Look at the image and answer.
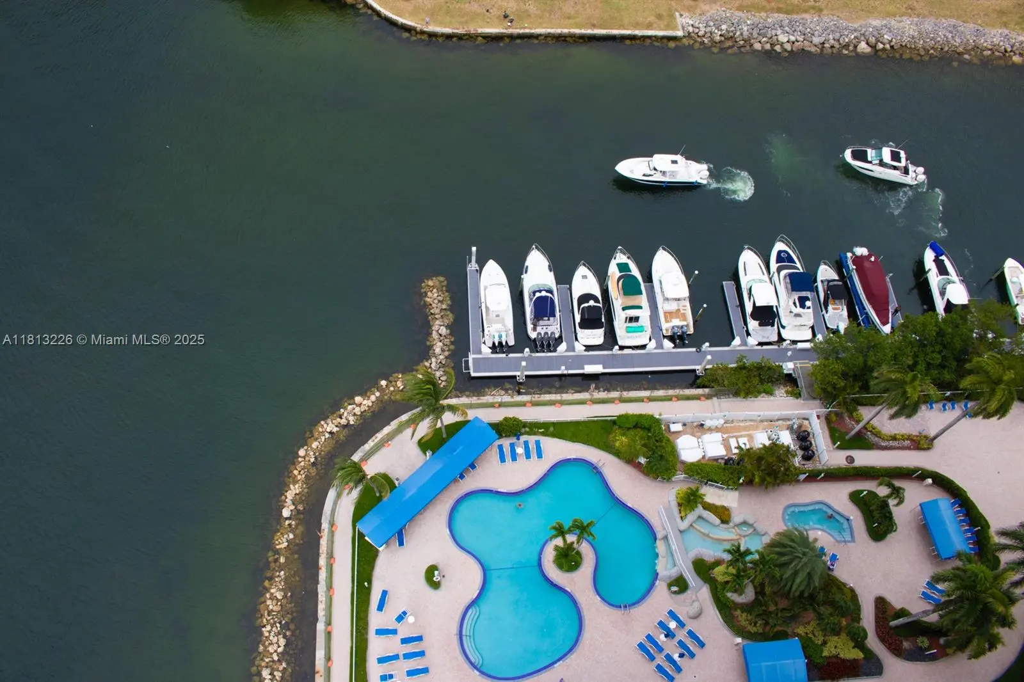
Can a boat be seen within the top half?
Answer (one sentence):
Yes, there is a boat within the top half.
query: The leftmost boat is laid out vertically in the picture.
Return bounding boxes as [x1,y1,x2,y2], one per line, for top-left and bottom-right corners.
[478,260,517,350]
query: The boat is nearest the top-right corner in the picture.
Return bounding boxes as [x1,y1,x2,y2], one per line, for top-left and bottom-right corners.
[844,143,928,192]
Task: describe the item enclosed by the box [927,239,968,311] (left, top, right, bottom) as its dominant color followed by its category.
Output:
white boat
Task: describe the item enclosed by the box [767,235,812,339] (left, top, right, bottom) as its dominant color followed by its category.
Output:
white boat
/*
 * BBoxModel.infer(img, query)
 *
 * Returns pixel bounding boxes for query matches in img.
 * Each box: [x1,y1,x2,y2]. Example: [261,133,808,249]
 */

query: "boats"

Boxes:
[567,261,609,342]
[478,260,517,350]
[927,239,968,311]
[605,244,654,347]
[615,138,713,189]
[736,244,782,340]
[844,143,928,192]
[815,263,847,329]
[651,244,695,343]
[767,235,812,339]
[1002,258,1024,329]
[522,243,562,346]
